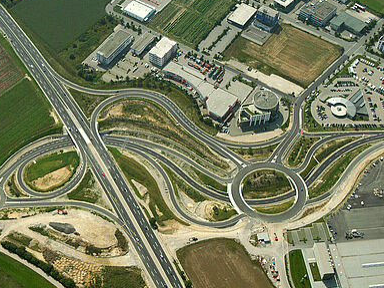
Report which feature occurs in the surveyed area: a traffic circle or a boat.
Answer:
traffic circle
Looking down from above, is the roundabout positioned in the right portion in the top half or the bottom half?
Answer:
bottom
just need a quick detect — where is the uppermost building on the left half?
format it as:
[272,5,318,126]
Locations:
[124,0,151,21]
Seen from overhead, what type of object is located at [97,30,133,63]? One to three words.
building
